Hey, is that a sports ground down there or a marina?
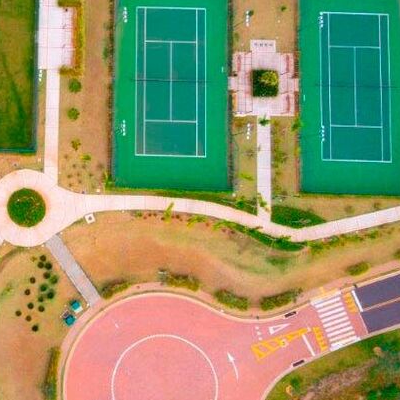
sports ground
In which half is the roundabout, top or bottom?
bottom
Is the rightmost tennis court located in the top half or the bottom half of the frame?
top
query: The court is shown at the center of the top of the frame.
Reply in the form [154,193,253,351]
[115,0,230,191]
